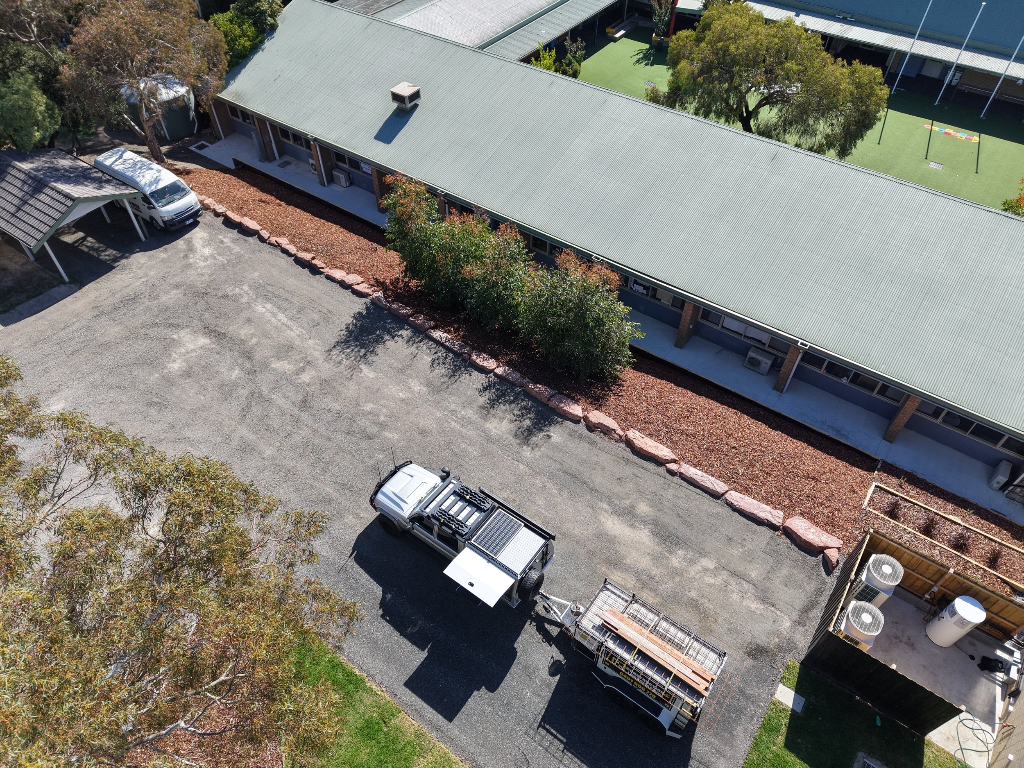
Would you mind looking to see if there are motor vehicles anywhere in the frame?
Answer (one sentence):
Yes, the frame does contain a motor vehicle.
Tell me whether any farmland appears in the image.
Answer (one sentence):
No, no farmland is visible.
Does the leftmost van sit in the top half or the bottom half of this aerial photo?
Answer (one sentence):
The leftmost van is in the top half of the image.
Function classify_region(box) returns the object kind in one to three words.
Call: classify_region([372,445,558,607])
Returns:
vehicle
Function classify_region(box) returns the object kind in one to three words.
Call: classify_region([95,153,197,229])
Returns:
van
